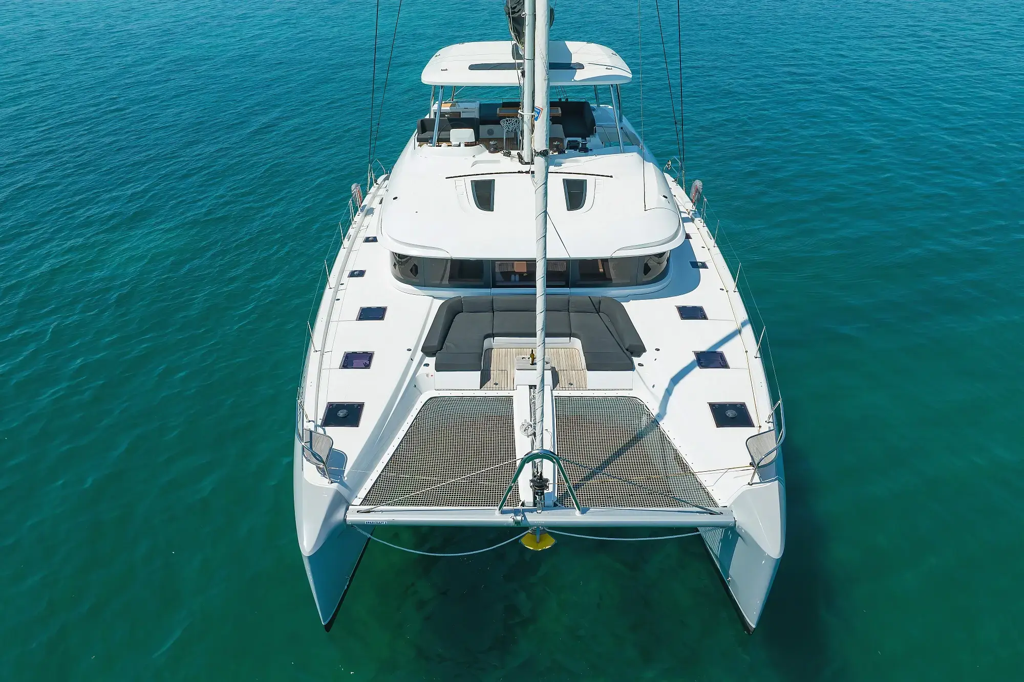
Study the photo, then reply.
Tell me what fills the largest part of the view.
water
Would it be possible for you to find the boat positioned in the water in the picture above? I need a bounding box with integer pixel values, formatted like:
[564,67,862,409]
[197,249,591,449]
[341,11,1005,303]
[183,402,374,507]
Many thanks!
[292,0,781,632]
